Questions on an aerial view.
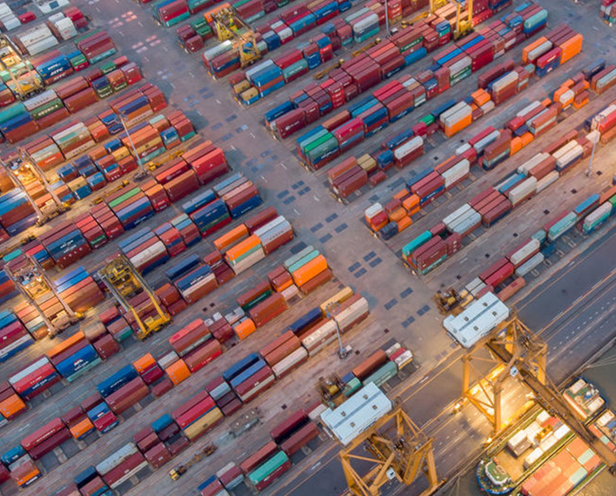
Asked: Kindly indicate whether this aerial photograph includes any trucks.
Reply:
Yes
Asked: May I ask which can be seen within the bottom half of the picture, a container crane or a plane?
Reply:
container crane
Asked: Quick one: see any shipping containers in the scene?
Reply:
Yes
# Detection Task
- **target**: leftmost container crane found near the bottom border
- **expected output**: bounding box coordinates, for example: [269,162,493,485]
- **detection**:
[316,376,444,496]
